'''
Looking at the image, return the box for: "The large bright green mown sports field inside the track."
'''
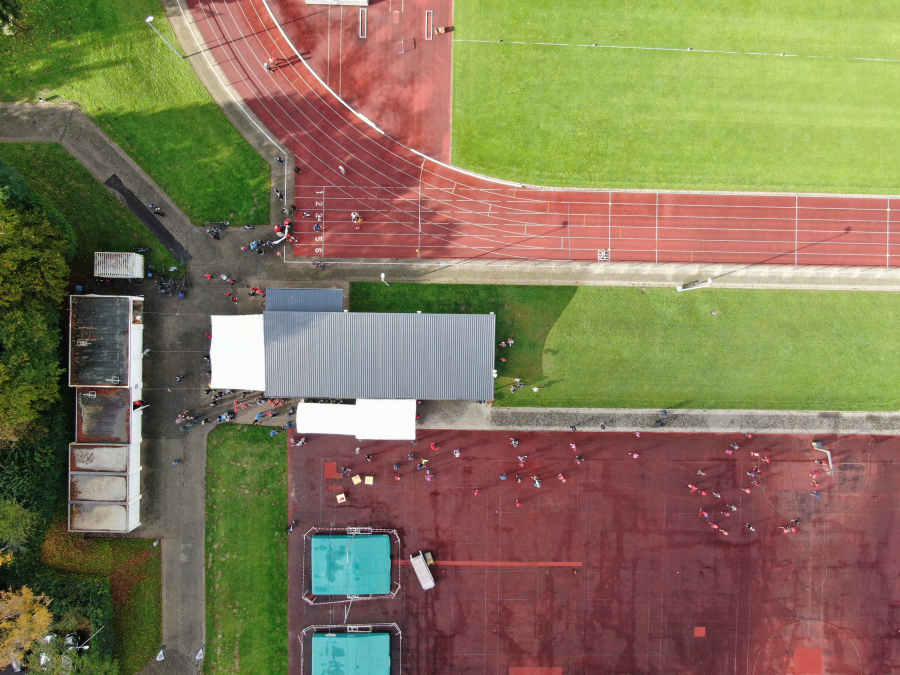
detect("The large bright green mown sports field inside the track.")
[451,0,900,192]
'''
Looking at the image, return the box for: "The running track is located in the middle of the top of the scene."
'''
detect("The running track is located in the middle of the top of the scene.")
[188,0,900,268]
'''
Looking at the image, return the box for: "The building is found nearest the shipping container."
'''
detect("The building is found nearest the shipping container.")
[69,295,151,532]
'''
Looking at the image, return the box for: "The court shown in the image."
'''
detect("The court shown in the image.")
[287,428,900,675]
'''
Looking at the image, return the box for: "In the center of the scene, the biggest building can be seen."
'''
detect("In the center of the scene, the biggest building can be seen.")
[263,287,497,401]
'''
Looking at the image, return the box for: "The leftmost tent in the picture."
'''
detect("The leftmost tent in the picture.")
[207,316,268,390]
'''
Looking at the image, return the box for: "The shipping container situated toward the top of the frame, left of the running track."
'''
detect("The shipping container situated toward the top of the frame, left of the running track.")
[94,251,145,278]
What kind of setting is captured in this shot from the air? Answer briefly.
sports ground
